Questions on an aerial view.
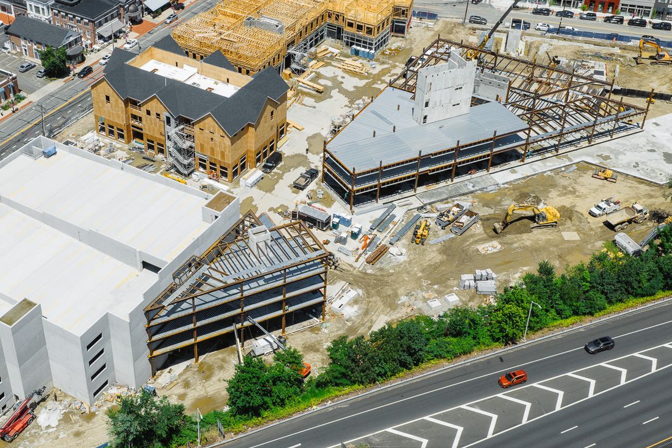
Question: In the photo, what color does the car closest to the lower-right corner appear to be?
black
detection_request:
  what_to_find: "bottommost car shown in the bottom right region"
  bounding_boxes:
[497,366,530,388]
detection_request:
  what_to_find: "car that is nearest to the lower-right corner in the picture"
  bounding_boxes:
[585,333,615,353]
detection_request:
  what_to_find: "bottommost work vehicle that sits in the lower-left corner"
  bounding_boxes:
[0,399,38,439]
